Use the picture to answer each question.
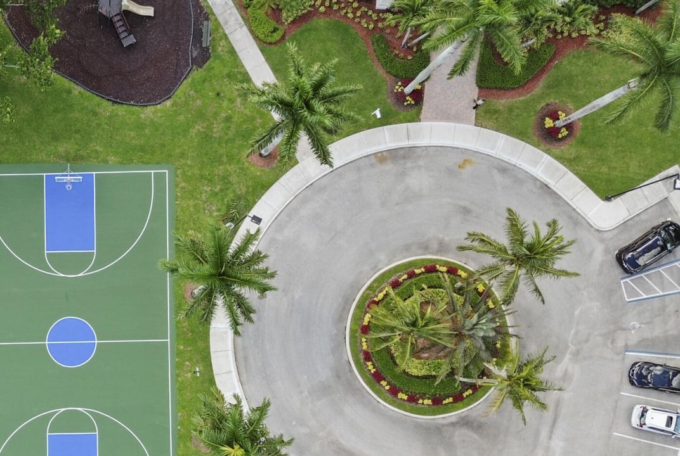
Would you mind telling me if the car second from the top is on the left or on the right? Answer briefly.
right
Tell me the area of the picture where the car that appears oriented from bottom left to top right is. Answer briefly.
right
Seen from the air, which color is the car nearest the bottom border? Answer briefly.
white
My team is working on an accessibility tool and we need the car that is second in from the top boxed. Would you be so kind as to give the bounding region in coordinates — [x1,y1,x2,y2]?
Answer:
[629,361,680,393]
